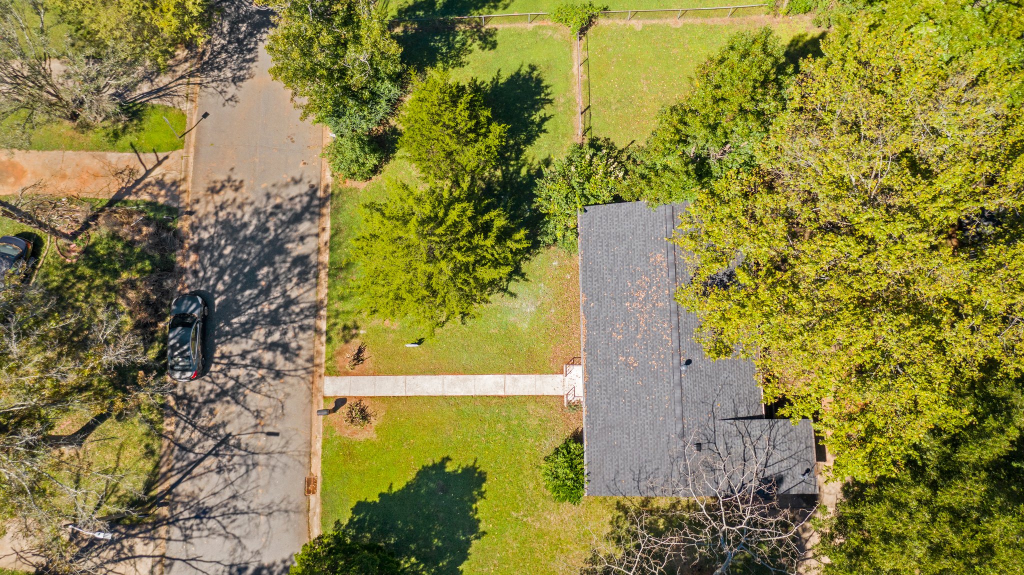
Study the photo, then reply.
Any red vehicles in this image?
No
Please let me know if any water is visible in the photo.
No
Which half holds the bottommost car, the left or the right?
left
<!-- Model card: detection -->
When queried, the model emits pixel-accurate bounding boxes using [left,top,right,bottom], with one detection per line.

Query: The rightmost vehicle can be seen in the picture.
[165,294,211,383]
